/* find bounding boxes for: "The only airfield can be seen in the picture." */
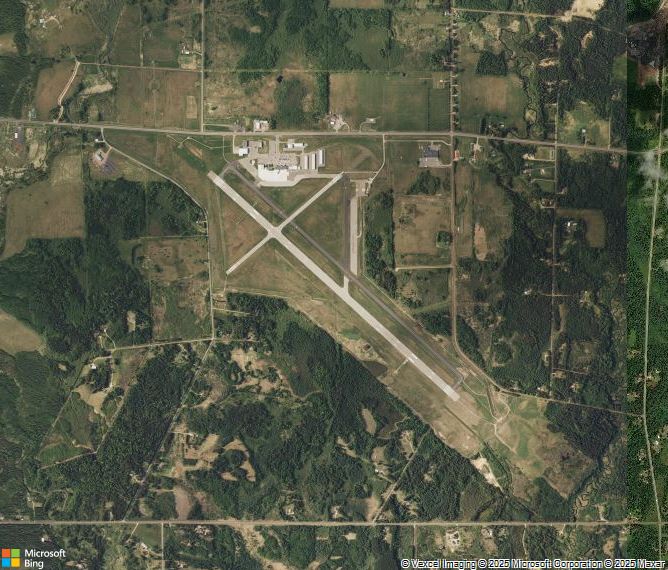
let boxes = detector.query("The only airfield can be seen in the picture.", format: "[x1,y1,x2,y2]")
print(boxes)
[192,135,592,500]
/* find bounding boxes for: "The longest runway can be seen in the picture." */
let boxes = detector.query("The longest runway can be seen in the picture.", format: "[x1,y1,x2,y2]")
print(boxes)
[207,171,460,400]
